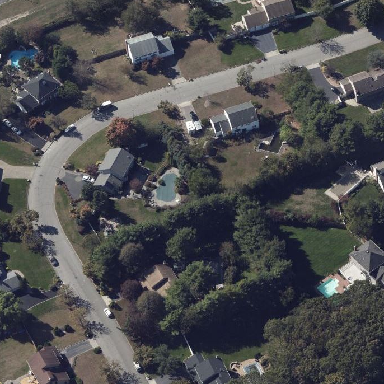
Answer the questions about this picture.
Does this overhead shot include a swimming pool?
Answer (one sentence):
Yes, you can see a swimming pool in this photo.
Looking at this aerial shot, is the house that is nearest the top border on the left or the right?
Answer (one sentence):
The house that is nearest the top border appears in the right half of the scene.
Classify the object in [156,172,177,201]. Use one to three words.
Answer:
swimming pool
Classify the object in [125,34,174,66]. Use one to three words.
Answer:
house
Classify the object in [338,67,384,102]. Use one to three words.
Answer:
house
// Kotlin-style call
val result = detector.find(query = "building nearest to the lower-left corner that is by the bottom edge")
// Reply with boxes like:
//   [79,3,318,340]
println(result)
[26,353,70,384]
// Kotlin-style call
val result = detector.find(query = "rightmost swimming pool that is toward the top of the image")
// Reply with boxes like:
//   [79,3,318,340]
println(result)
[260,128,282,154]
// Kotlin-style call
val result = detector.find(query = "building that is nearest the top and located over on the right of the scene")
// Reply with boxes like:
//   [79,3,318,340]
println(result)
[240,0,295,37]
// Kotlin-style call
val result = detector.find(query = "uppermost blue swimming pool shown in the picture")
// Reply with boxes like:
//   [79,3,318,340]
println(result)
[9,49,39,67]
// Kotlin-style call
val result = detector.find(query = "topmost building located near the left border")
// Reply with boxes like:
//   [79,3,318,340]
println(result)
[15,70,61,118]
